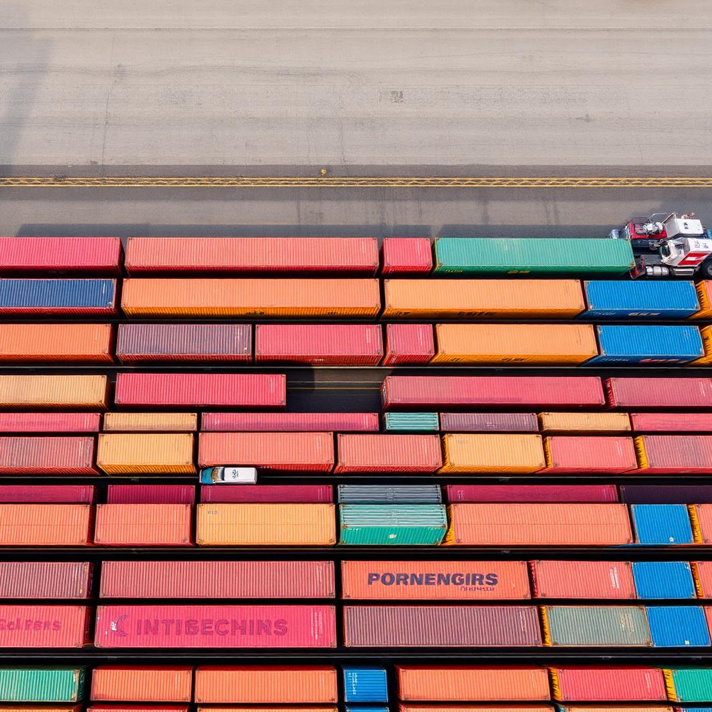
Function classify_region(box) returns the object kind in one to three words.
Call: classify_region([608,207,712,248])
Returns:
truck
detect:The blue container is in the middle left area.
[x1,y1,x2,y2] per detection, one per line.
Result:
[0,280,123,318]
